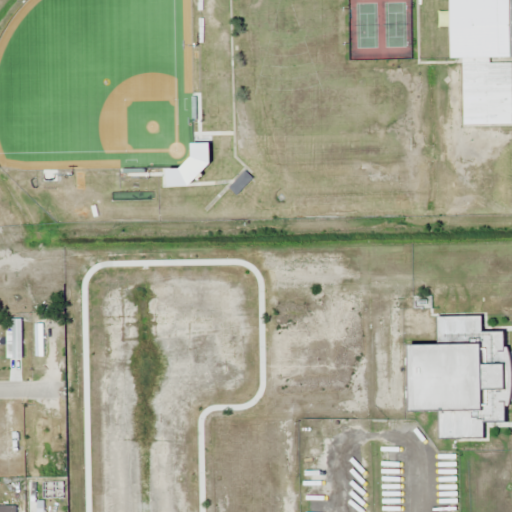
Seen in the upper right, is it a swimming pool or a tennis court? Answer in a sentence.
The feature located in the upper right is a tennis court.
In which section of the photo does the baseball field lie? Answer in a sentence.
Look in the top left portion of the view to spot the baseball field.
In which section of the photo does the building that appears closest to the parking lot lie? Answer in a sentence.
The building that appears closest to the parking lot is in the bottom right part of the image.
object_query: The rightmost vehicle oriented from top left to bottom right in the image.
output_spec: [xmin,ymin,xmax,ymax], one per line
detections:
[412,426,431,446]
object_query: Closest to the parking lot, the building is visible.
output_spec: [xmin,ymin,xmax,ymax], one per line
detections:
[406,315,512,438]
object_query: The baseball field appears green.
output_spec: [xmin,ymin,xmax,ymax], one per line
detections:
[0,0,193,168]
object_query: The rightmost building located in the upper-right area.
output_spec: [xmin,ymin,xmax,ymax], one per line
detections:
[450,0,512,62]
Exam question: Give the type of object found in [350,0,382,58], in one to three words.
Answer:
tennis court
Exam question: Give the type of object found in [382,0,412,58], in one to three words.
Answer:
tennis court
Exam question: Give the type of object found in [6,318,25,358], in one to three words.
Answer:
house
